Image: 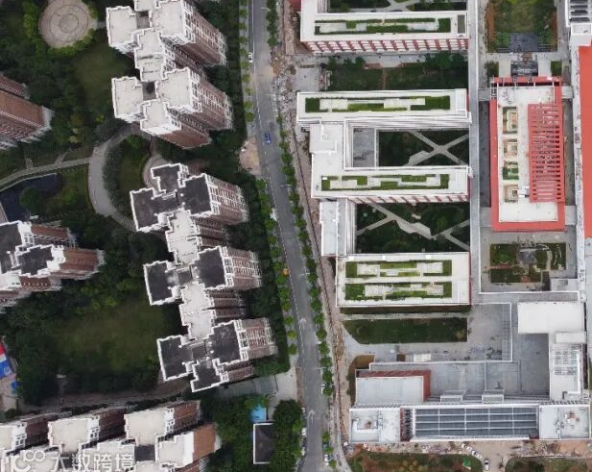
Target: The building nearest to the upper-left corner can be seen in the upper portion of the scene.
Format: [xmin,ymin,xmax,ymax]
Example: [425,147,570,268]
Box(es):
[0,71,50,155]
